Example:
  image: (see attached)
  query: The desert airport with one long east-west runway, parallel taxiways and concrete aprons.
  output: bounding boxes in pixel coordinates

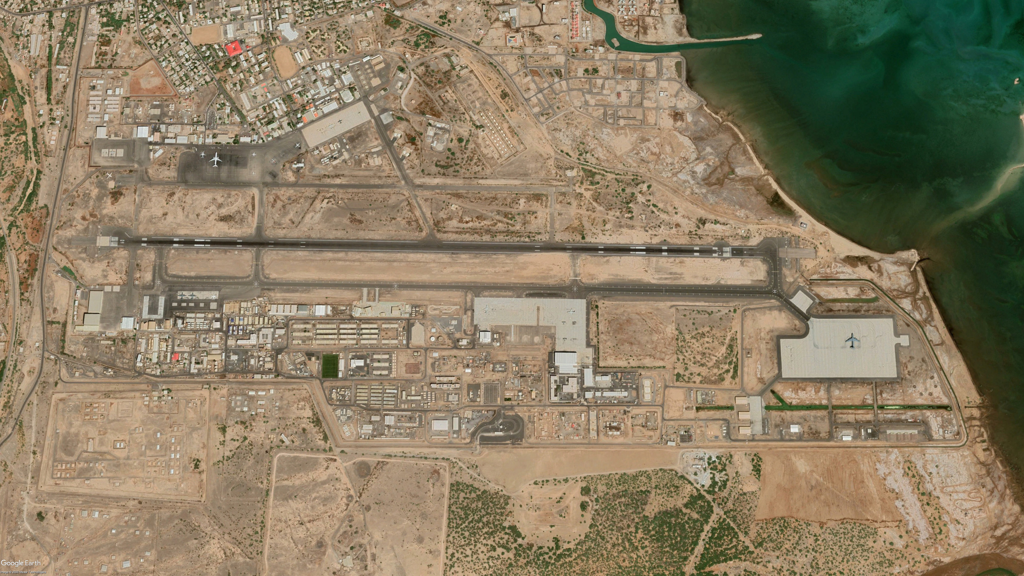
[71,65,910,381]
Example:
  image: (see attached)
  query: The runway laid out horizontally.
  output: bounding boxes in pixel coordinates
[110,236,816,258]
